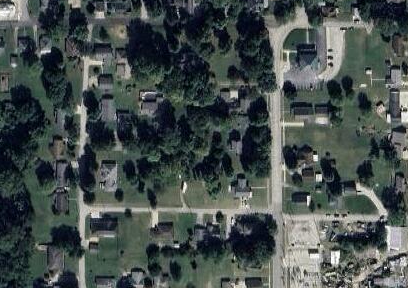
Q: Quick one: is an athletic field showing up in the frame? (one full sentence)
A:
No, there is no athletic field in the image.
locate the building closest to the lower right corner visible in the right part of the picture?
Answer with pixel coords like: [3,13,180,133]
[387,227,404,252]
